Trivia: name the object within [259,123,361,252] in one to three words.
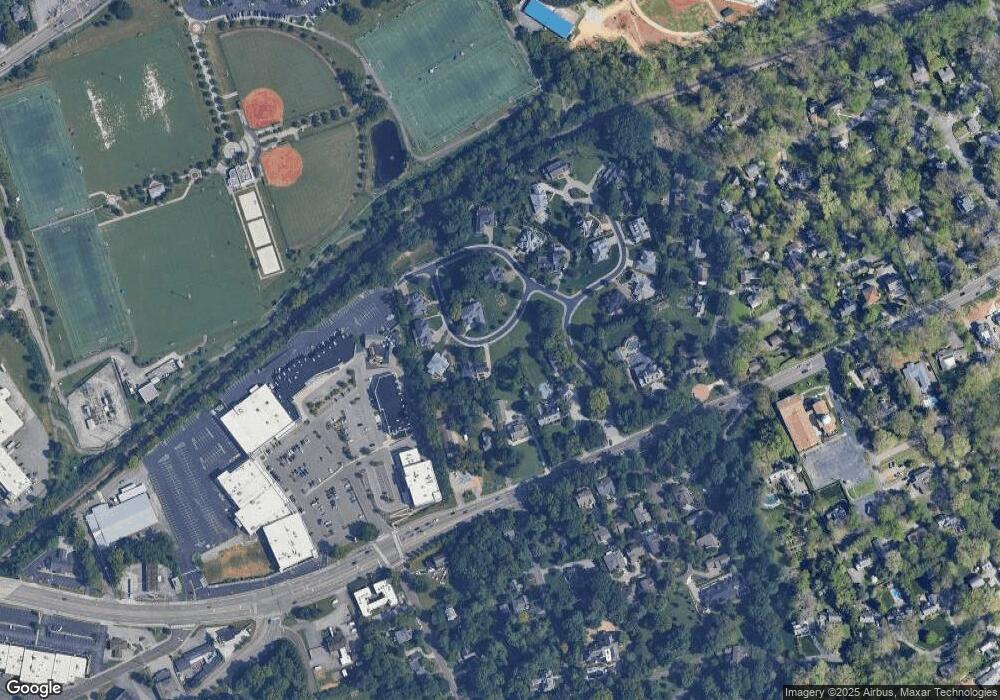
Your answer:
baseball field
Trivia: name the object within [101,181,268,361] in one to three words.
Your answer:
sports field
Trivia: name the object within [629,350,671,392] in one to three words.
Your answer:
house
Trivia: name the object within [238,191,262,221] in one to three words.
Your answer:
sports court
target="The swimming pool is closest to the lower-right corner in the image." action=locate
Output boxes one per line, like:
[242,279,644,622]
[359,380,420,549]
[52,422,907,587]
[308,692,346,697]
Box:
[891,585,905,607]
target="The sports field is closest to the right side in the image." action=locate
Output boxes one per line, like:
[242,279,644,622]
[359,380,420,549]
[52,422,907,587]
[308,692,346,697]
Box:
[356,0,540,156]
